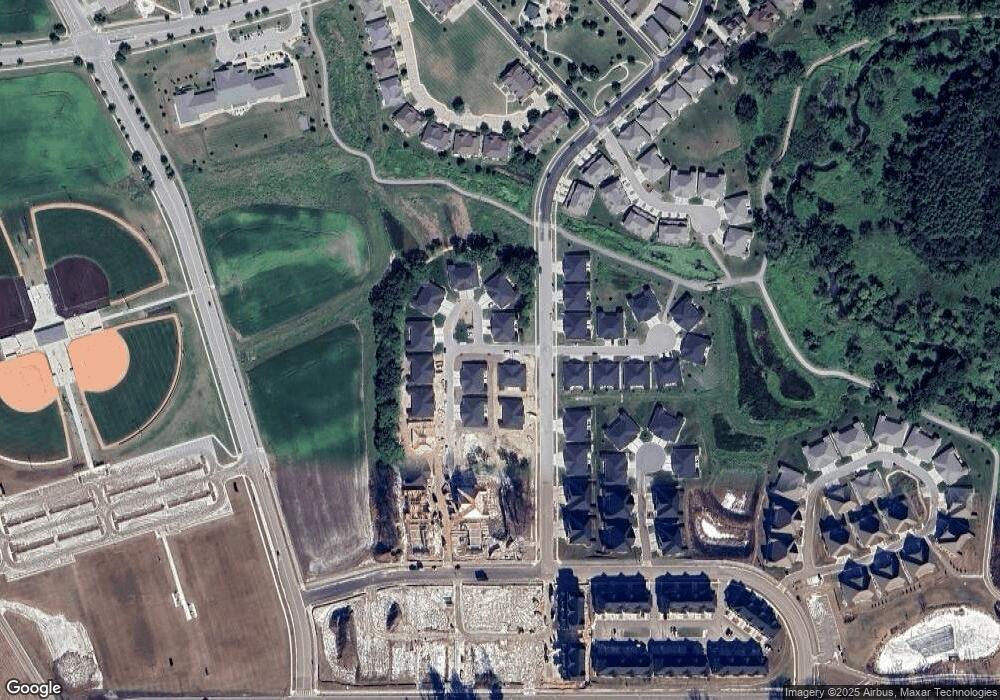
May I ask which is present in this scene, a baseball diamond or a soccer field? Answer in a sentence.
The one in the frame is a baseball diamond.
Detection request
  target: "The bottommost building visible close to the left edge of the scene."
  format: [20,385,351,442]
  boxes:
[33,321,68,347]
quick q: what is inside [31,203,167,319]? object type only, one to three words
baseball field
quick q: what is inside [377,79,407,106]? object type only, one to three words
house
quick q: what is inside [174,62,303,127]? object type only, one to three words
building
